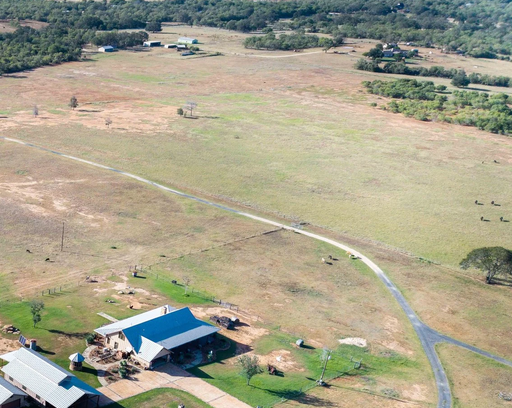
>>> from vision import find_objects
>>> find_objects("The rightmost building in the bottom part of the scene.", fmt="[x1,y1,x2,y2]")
[94,304,219,369]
